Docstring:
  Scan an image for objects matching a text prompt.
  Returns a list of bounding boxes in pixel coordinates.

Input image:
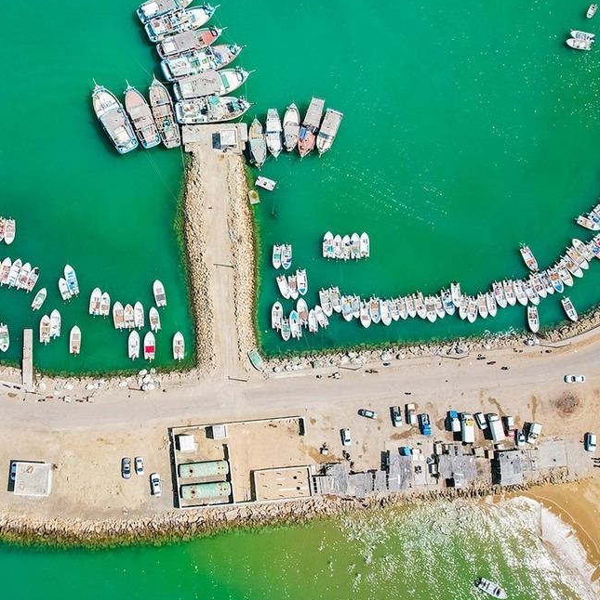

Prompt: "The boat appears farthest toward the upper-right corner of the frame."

[587,1,599,19]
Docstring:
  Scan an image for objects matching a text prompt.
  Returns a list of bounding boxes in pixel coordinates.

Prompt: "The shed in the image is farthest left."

[14,461,52,496]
